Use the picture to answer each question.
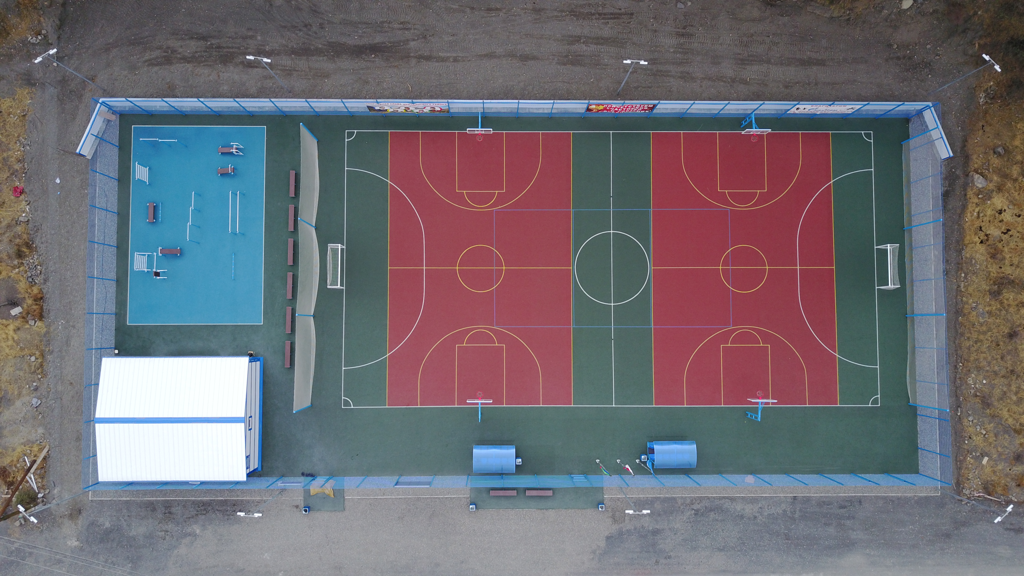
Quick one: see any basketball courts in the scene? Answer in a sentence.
Yes, I can see a basketball court in this picture.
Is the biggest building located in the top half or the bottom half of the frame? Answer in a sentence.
The biggest building is in the bottom half of the image.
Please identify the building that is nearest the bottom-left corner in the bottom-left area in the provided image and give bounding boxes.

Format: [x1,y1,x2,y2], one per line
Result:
[93,355,263,483]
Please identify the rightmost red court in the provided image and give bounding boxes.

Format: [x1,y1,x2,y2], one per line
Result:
[651,132,839,405]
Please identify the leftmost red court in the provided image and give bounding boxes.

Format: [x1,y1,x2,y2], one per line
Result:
[387,132,573,406]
